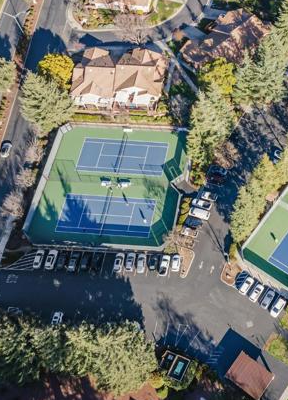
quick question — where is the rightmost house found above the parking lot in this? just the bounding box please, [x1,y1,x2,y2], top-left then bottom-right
[170,7,268,75]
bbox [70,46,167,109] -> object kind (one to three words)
house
